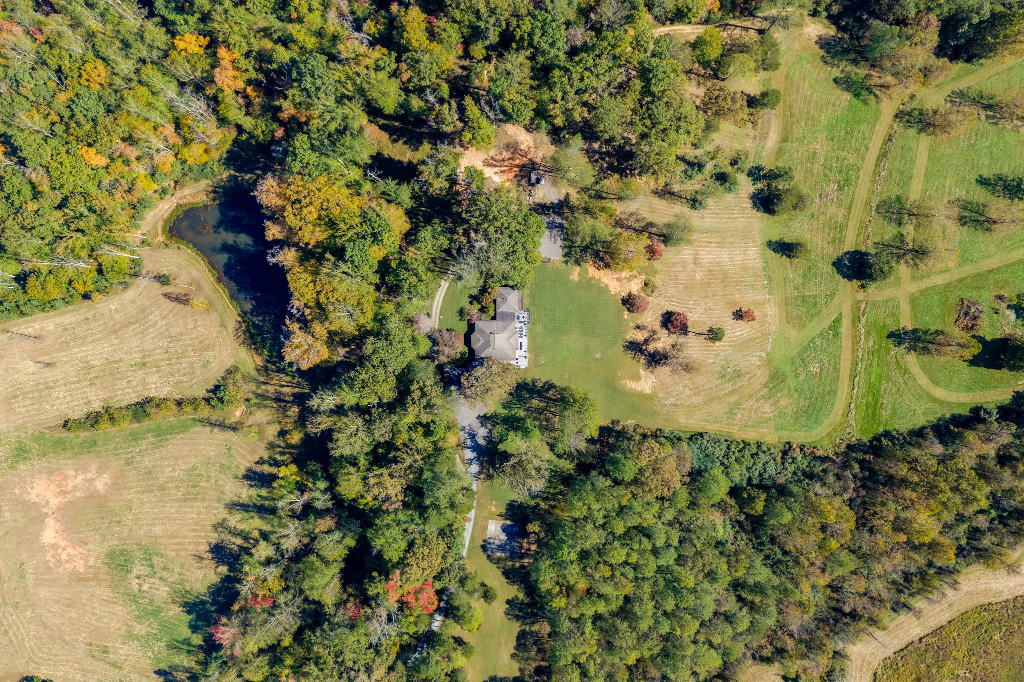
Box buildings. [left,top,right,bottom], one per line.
[471,287,519,361]
[541,216,564,259]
